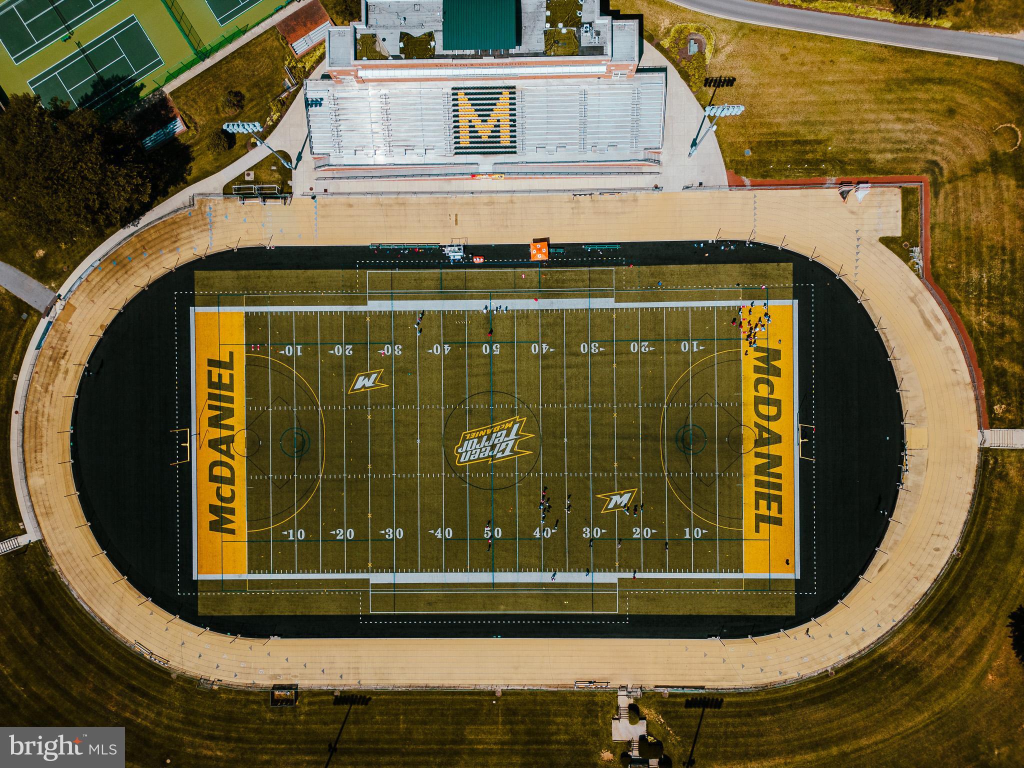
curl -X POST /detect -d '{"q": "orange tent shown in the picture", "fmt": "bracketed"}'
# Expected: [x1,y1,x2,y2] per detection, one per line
[531,243,548,263]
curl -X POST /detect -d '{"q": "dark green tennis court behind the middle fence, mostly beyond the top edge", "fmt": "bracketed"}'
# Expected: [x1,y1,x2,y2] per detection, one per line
[205,0,263,27]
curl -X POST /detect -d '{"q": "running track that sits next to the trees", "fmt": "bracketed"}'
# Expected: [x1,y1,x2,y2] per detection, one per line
[22,188,978,686]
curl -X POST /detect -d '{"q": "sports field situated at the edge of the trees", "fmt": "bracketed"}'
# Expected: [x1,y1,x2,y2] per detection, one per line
[72,241,902,637]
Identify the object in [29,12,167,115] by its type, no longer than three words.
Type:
tennis court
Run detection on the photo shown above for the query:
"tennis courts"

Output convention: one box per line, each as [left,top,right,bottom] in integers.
[29,12,167,115]
[0,0,119,65]
[205,0,263,27]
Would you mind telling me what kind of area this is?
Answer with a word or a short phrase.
sports ground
